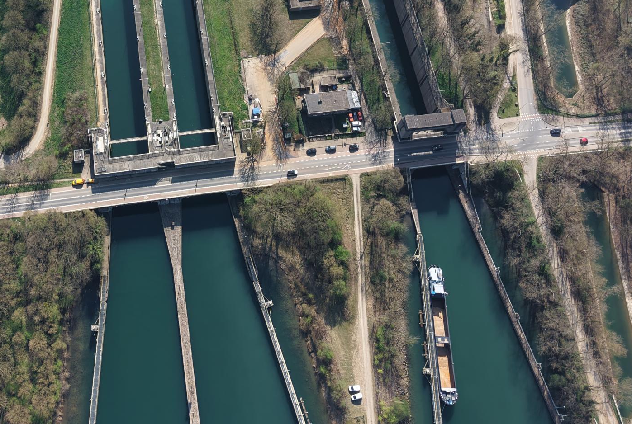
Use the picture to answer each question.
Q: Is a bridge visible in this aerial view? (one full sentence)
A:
Yes, there's a bridge here.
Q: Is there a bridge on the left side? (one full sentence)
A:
Yes, you'll find a bridge on the left side.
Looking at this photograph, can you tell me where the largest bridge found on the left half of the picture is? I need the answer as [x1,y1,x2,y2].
[75,160,253,211]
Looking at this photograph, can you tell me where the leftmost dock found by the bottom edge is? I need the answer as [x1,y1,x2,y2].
[88,274,107,424]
